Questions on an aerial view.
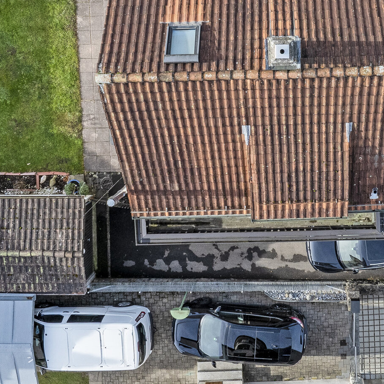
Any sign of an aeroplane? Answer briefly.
No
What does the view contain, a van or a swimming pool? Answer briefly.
van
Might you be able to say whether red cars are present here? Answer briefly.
No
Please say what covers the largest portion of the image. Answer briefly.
buildings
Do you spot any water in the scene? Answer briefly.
No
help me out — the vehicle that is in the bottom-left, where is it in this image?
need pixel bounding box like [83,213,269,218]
[33,309,155,382]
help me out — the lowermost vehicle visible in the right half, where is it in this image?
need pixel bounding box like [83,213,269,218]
[170,307,308,382]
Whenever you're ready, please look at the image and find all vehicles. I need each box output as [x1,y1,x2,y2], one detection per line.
[170,307,308,382]
[303,238,384,281]
[33,309,155,382]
